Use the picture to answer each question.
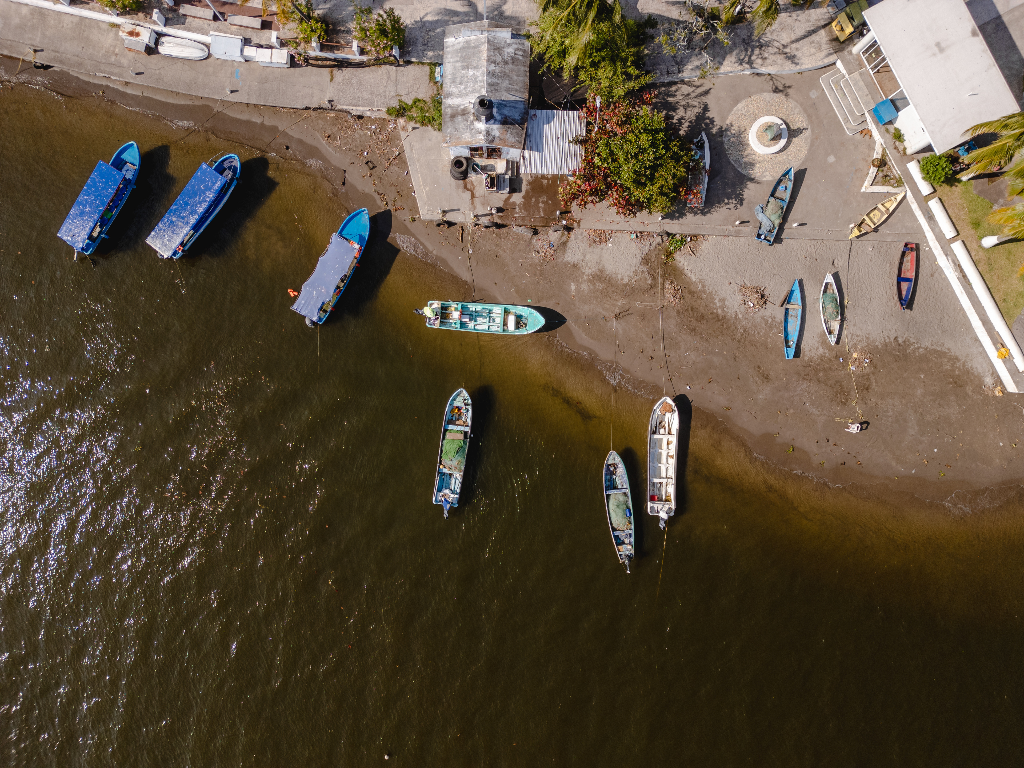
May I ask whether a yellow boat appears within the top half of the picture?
Yes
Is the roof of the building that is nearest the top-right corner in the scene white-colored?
Yes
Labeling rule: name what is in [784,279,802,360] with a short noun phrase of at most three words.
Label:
boat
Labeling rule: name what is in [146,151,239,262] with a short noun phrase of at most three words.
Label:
boat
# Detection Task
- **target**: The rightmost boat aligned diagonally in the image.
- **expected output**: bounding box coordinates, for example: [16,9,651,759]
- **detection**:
[849,191,906,239]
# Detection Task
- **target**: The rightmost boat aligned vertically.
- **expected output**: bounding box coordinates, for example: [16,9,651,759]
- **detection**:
[895,242,916,311]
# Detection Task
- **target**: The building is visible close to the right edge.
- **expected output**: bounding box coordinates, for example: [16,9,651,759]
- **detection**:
[851,0,1021,157]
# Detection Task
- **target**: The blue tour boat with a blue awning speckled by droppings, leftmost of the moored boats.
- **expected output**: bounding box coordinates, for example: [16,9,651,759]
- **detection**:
[57,141,140,264]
